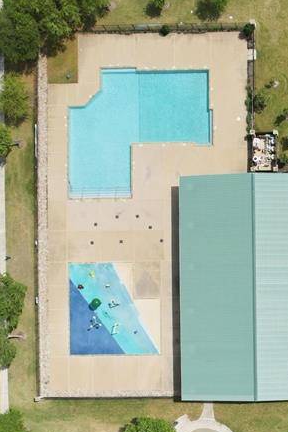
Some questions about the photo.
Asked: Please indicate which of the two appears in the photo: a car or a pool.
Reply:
pool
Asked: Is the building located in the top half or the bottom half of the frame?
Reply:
bottom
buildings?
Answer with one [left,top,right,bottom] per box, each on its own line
[178,172,288,402]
